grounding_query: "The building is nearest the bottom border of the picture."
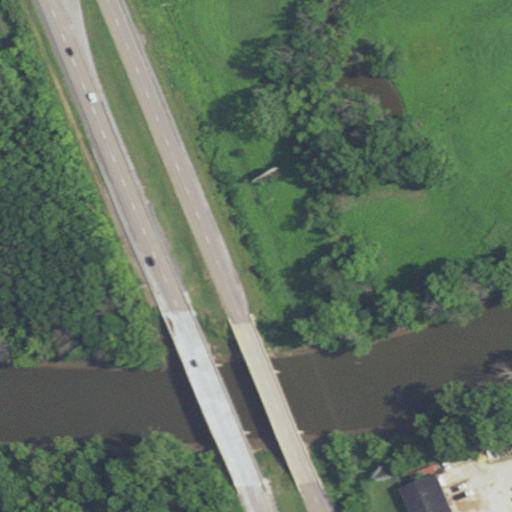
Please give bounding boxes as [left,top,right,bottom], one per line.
[398,474,450,512]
